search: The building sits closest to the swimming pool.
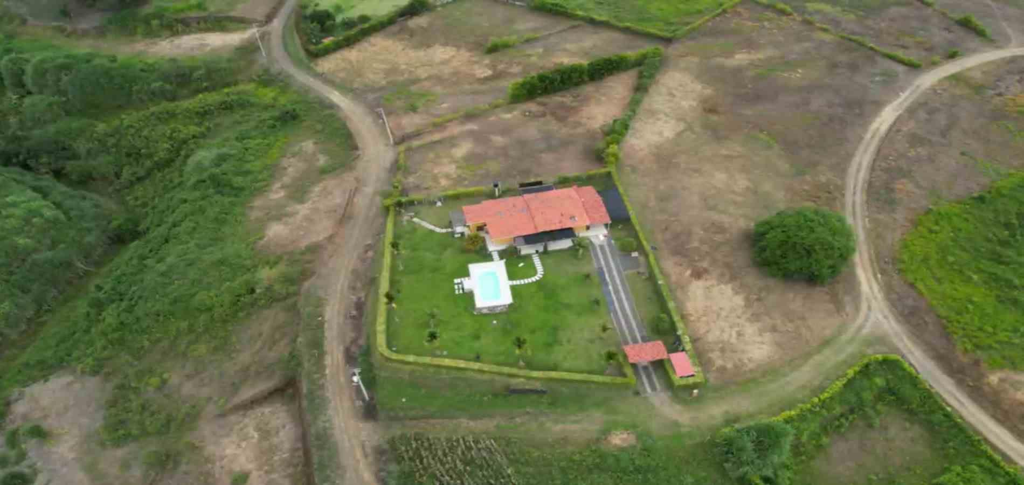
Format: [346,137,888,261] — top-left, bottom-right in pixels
[451,176,611,260]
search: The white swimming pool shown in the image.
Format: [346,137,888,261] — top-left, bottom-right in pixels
[461,260,514,313]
